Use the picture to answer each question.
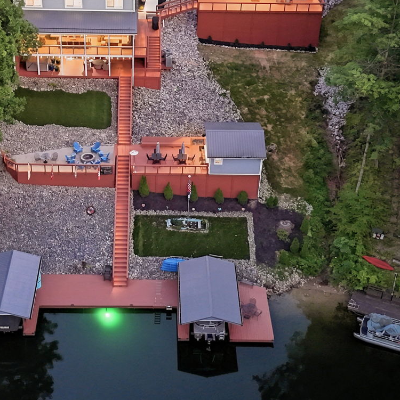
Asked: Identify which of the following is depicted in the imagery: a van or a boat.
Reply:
boat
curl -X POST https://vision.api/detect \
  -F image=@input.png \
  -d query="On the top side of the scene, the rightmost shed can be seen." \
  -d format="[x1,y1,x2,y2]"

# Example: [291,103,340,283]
[204,123,267,197]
